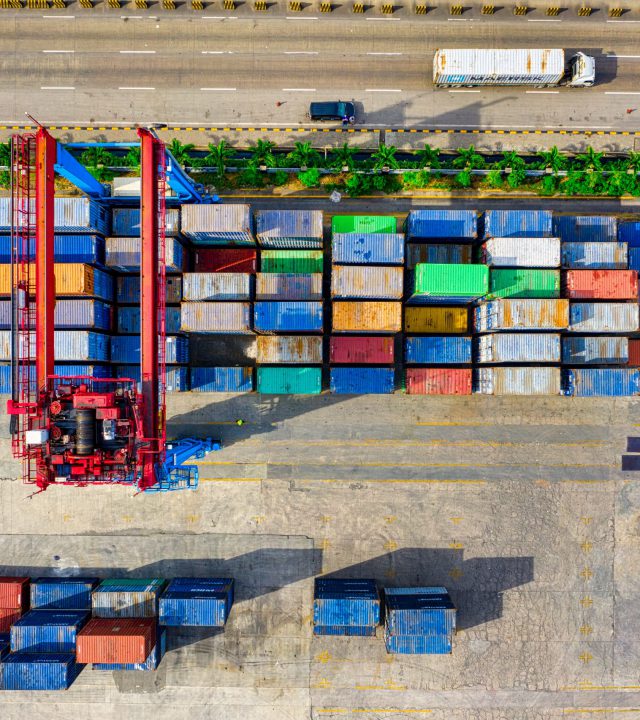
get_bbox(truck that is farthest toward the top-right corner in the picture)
[532,53,590,88]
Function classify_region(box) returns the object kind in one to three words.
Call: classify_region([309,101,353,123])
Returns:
vehicle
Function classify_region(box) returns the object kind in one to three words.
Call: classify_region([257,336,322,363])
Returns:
shipping container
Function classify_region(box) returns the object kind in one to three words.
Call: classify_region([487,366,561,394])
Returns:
shipping container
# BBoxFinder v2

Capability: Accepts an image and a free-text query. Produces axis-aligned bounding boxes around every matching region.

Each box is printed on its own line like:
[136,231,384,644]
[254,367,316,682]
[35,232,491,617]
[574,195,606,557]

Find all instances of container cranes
[8,112,224,502]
